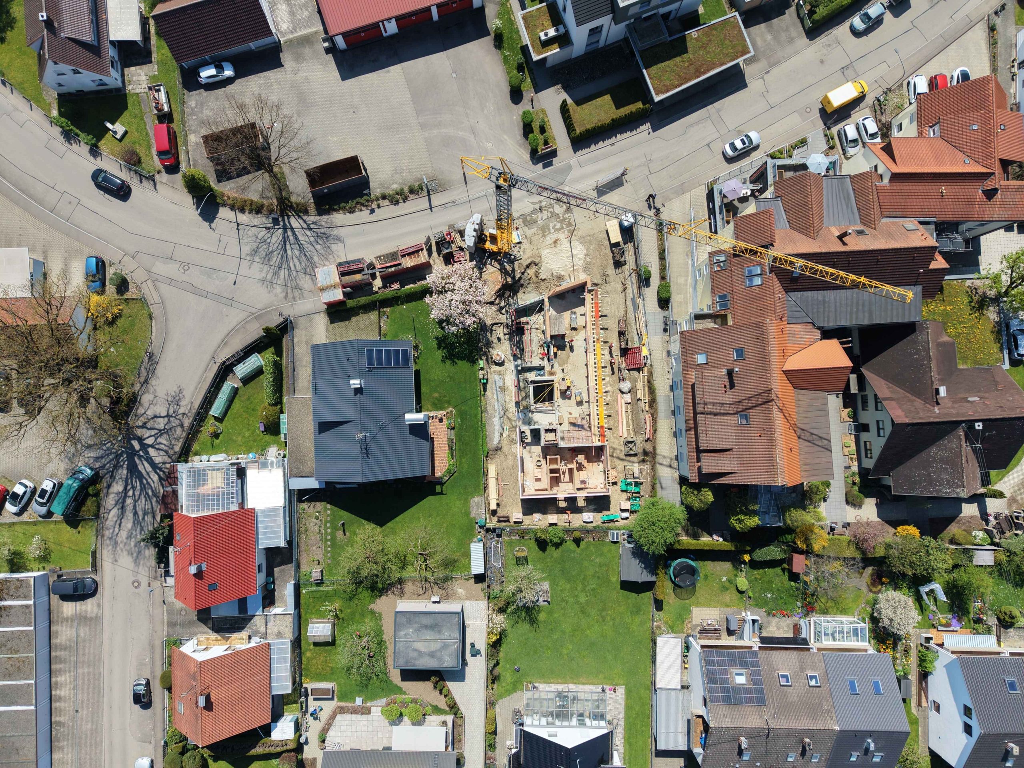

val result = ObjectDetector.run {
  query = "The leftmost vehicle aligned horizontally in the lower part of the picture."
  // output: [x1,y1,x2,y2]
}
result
[54,577,97,596]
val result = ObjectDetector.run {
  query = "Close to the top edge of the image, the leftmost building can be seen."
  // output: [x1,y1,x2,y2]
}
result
[24,0,126,95]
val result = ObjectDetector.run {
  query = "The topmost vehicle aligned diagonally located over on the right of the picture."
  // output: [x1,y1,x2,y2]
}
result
[849,2,887,34]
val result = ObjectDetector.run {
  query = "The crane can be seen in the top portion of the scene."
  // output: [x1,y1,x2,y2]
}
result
[461,154,917,305]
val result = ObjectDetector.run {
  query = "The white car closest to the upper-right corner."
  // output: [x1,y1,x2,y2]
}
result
[949,65,971,86]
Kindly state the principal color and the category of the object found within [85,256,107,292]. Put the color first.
blue car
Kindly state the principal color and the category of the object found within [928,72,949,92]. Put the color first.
red car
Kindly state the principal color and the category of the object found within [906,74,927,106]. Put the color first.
white car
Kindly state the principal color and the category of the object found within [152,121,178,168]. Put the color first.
red vehicle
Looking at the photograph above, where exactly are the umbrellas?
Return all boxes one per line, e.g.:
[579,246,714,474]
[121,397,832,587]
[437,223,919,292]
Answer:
[804,153,829,174]
[719,180,744,201]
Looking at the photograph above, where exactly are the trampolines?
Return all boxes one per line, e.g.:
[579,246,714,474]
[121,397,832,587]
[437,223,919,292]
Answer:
[668,557,705,592]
